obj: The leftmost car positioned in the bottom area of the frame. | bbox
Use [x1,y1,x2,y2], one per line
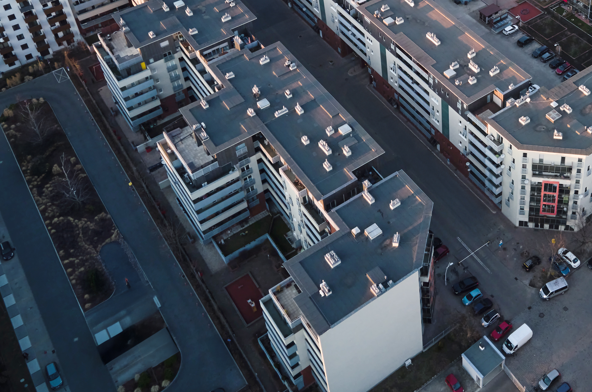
[0,240,15,262]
